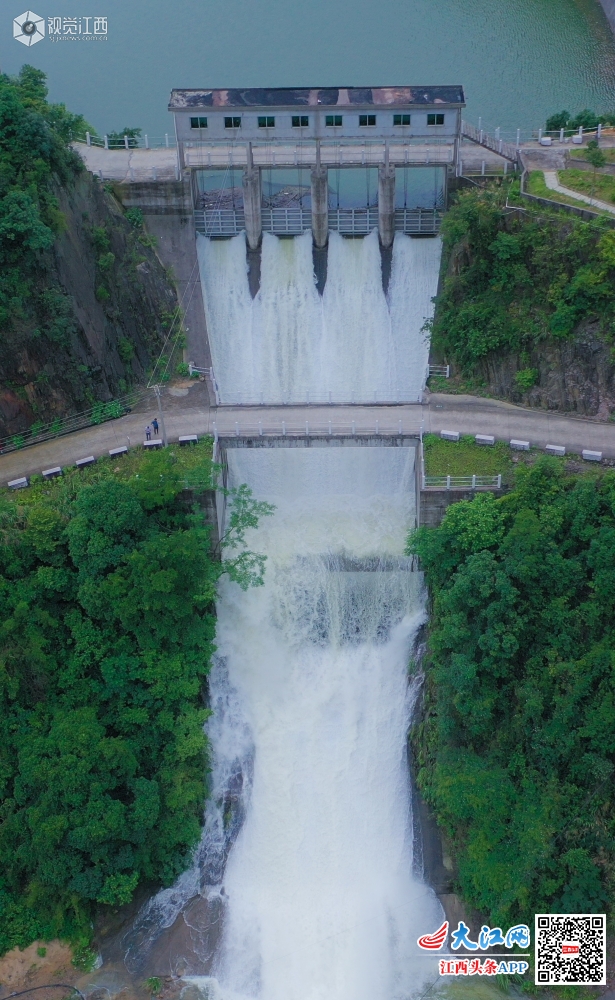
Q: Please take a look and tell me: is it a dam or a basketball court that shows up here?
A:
dam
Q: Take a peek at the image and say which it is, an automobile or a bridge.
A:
bridge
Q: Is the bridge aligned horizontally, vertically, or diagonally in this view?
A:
horizontally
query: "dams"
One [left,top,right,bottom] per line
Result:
[62,129,530,390]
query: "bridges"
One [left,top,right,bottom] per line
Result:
[210,394,432,448]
